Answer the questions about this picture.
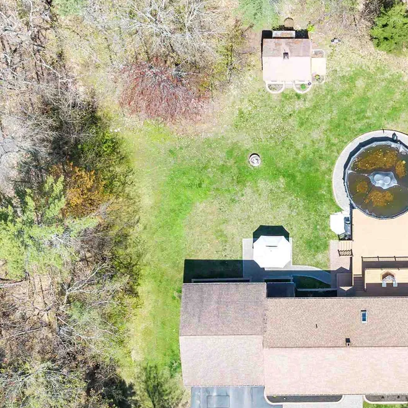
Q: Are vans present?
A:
No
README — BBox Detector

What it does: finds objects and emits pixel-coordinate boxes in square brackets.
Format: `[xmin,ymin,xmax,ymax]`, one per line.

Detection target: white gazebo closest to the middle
[253,236,292,267]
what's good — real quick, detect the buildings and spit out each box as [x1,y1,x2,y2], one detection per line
[262,31,310,86]
[179,281,408,396]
